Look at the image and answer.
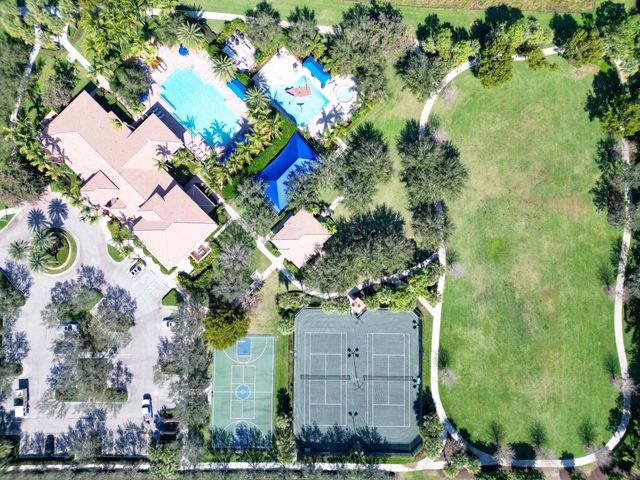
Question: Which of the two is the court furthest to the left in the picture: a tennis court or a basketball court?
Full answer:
The court furthest to the left appears to be a basketball court.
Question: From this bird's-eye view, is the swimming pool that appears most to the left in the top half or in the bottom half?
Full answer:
The swimming pool that appears most to the left is in the top half of the image.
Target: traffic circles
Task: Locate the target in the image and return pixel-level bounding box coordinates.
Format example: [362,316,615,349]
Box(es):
[32,229,79,276]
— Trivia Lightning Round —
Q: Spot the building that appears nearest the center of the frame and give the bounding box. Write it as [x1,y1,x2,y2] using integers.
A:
[272,208,331,267]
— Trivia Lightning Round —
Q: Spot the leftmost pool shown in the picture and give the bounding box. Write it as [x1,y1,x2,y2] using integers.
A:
[159,65,243,149]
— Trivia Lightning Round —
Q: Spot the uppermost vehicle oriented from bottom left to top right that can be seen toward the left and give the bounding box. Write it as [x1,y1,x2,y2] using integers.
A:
[127,263,146,279]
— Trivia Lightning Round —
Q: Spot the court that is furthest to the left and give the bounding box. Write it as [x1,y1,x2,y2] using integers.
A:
[213,336,274,448]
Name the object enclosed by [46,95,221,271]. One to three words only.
building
